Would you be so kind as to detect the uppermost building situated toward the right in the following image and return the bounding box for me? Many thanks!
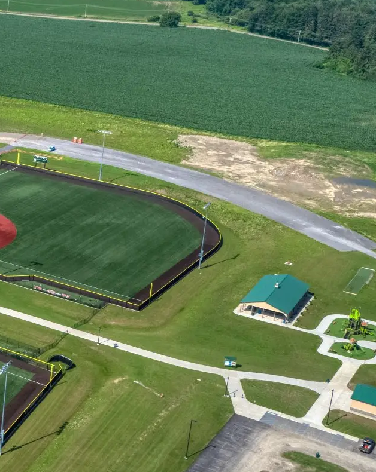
[238,263,311,320]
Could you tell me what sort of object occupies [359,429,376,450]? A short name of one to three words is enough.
vehicle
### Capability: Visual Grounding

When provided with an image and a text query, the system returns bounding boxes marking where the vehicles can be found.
[359,429,376,450]
[44,141,59,149]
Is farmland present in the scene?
Yes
